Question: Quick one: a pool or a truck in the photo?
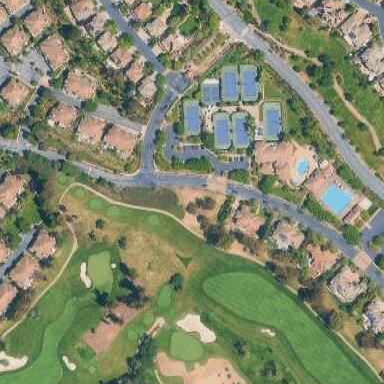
pool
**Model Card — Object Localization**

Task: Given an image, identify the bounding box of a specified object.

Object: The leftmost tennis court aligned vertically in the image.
[184,99,201,136]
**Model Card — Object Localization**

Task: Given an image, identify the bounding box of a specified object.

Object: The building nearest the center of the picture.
[227,201,268,237]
